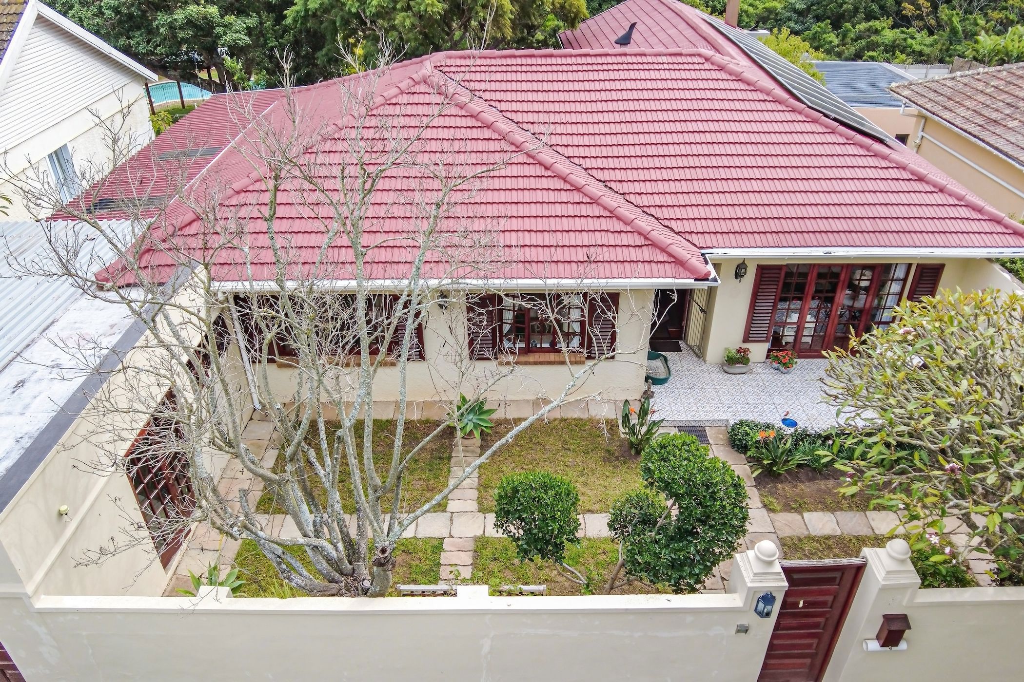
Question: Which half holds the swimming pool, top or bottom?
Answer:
top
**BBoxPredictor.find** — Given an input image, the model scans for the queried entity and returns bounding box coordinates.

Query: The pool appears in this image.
[142,79,271,101]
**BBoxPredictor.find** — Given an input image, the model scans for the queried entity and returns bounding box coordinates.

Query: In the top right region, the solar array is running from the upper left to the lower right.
[689,0,907,148]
